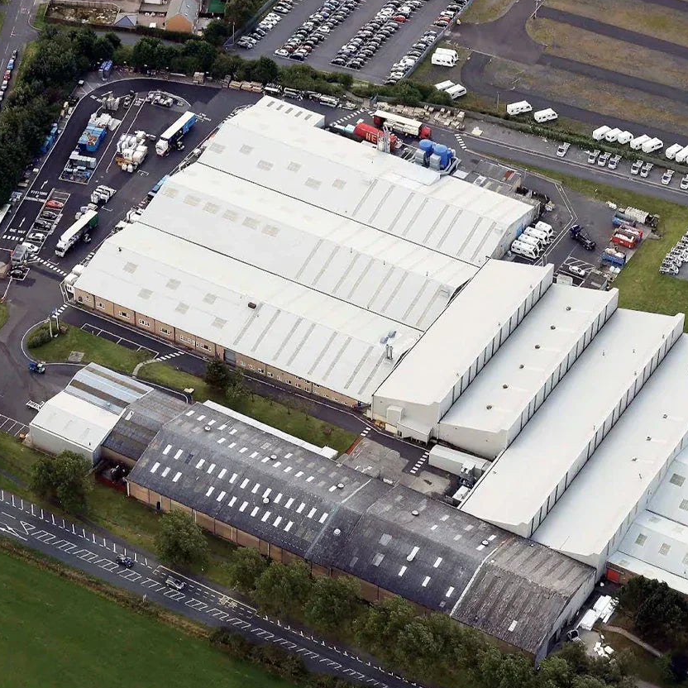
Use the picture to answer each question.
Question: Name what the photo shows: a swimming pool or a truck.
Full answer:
Visible in the photo is a truck.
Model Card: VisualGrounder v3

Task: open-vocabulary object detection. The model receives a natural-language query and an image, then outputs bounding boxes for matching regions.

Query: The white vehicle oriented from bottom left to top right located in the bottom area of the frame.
[580,591,610,629]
